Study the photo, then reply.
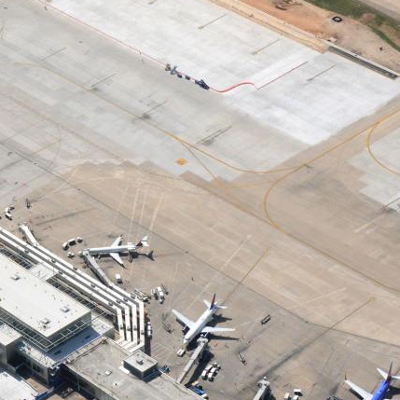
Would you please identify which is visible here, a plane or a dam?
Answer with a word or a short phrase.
plane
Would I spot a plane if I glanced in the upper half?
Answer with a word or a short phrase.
No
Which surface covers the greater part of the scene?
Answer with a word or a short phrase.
paved ground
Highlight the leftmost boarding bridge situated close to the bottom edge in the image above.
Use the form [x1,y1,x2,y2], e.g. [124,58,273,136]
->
[175,341,205,385]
